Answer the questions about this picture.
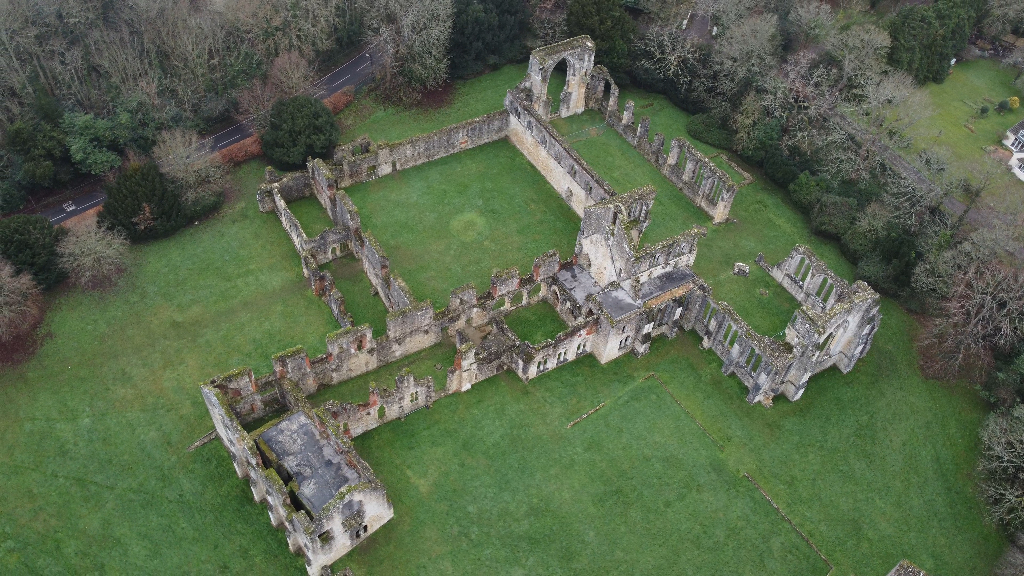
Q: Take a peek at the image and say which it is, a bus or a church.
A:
church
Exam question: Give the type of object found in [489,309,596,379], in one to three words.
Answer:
house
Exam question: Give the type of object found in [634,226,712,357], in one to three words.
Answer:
building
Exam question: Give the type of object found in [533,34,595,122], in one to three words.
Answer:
building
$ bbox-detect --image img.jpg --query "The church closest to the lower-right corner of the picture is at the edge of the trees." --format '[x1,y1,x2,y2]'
[764,280,893,401]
